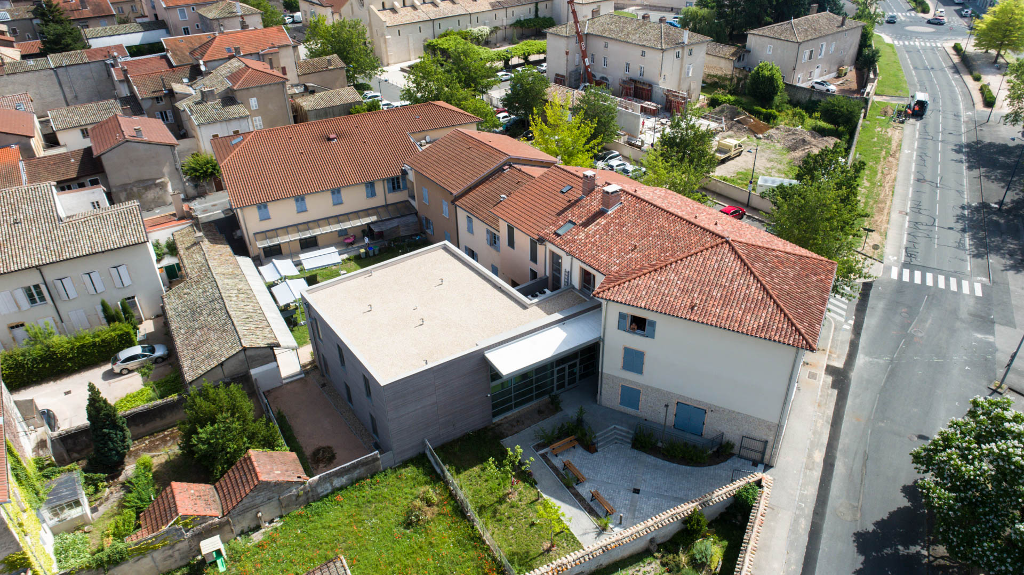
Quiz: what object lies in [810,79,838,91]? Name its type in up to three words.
vehicle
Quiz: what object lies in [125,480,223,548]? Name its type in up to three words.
shed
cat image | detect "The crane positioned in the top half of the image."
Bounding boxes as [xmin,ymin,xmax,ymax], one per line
[564,0,628,97]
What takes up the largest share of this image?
buildings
